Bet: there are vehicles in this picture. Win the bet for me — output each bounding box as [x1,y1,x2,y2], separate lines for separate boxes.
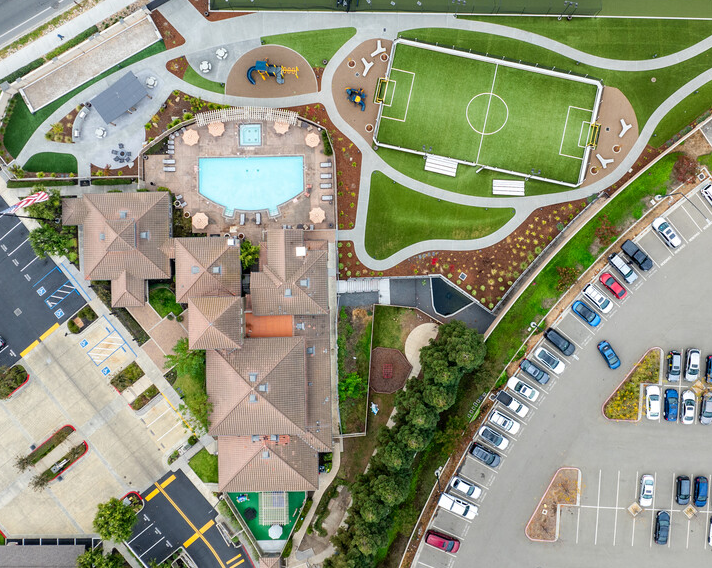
[644,386,661,418]
[683,348,701,380]
[494,388,531,419]
[519,358,550,385]
[697,392,712,424]
[699,184,712,209]
[674,475,690,504]
[426,529,459,552]
[469,441,502,467]
[661,388,680,421]
[449,475,482,499]
[653,509,670,543]
[608,253,638,283]
[487,408,520,434]
[582,284,613,313]
[619,237,653,273]
[664,350,682,382]
[439,492,477,518]
[535,347,564,372]
[572,300,600,327]
[679,391,698,424]
[596,338,620,371]
[507,375,539,401]
[544,328,576,356]
[691,476,708,505]
[478,425,508,449]
[597,271,628,301]
[703,354,712,383]
[652,217,682,248]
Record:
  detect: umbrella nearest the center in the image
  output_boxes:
[309,207,326,224]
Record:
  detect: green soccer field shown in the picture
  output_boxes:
[377,44,596,181]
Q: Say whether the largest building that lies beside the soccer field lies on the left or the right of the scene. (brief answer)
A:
left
